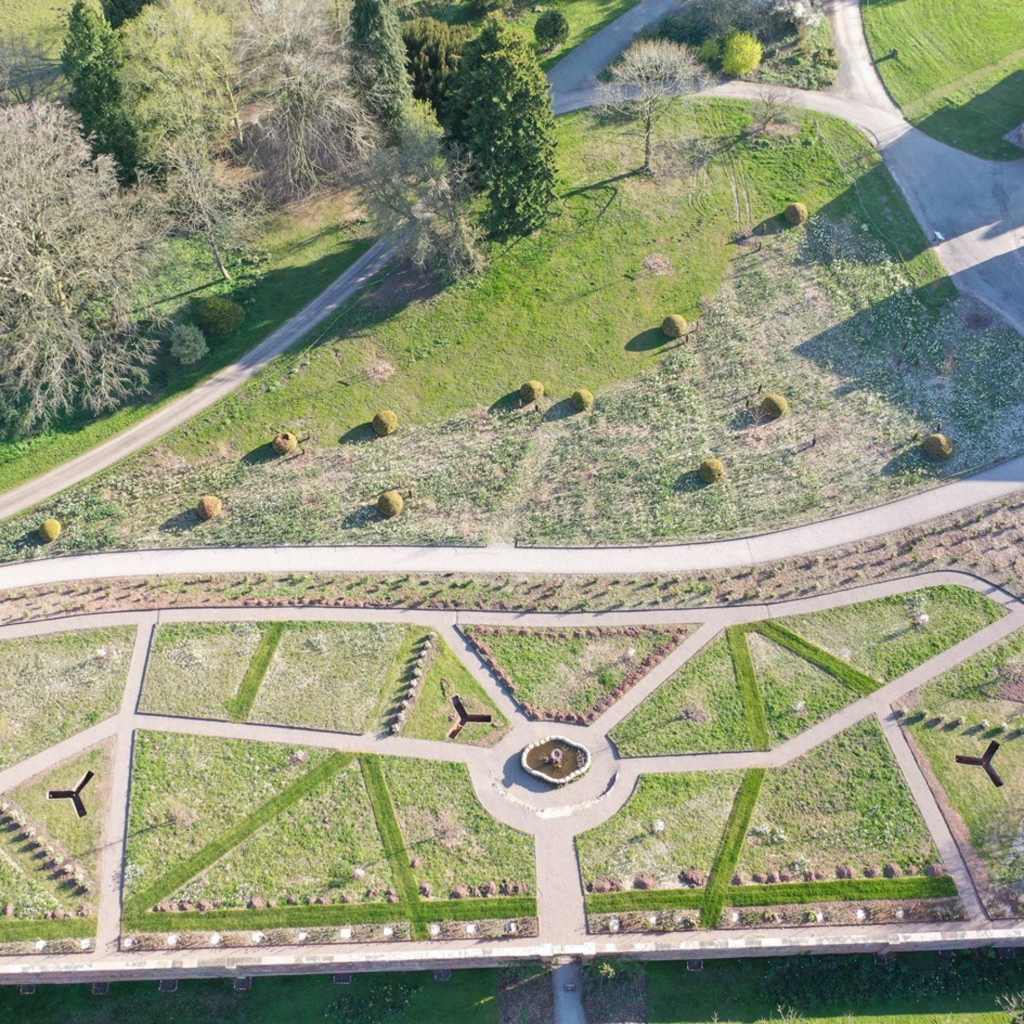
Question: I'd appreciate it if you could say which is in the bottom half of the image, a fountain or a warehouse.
fountain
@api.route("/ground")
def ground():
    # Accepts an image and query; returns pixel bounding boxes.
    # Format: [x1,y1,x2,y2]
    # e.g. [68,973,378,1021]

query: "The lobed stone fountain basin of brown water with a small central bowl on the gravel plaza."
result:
[521,735,591,785]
